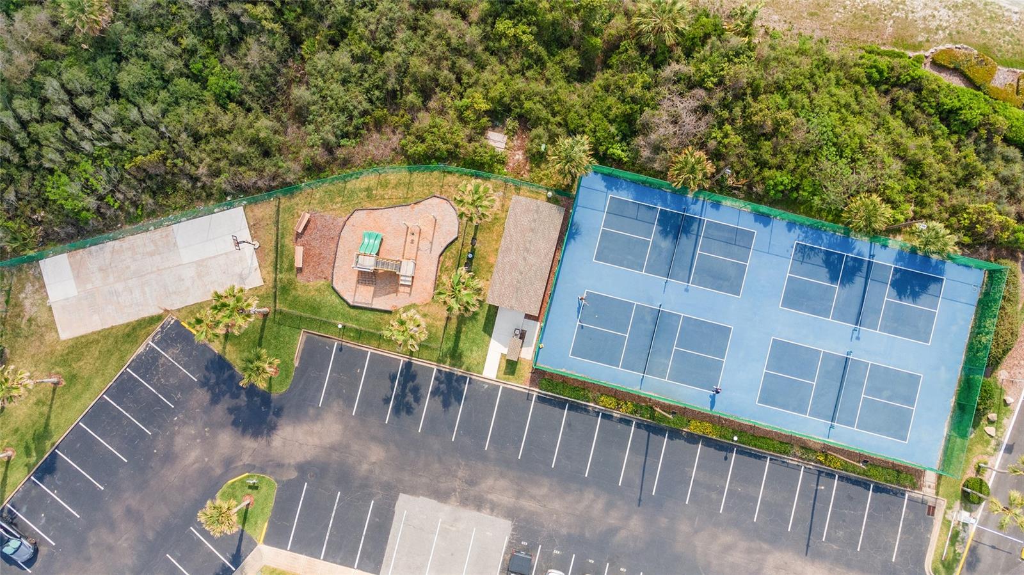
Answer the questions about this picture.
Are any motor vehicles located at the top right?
No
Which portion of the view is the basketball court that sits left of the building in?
left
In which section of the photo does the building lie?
center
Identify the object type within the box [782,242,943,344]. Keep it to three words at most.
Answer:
sports court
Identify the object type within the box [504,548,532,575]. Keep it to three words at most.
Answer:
truck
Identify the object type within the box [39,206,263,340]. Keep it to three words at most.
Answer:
basketball court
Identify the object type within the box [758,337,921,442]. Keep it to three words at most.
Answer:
sports court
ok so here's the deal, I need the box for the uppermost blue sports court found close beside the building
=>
[594,196,755,297]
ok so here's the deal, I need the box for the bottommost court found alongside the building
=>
[570,290,733,391]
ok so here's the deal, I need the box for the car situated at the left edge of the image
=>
[0,519,35,565]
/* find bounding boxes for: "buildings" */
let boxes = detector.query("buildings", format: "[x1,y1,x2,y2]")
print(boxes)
[485,195,564,316]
